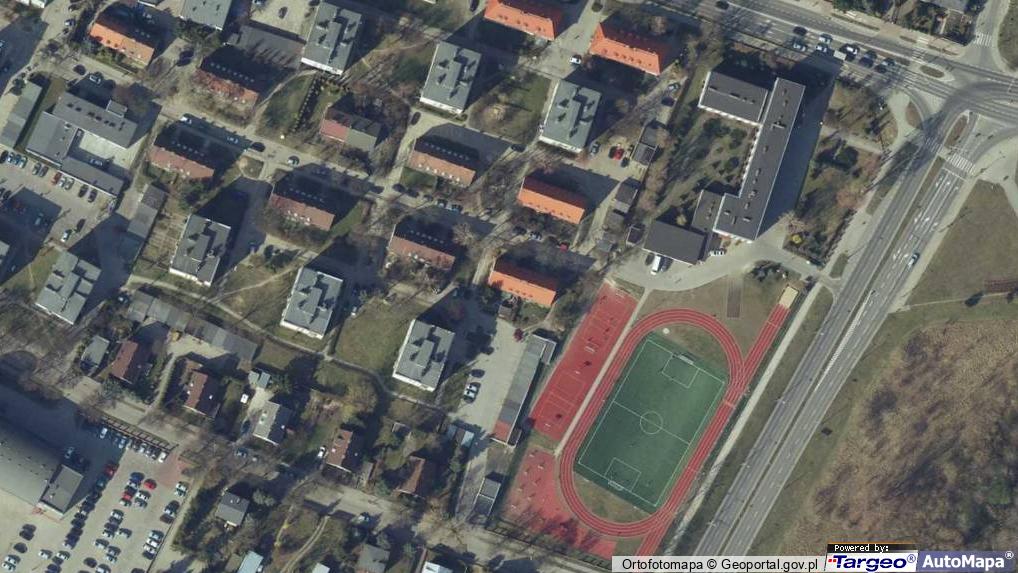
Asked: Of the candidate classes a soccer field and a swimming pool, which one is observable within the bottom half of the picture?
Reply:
soccer field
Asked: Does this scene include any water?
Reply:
No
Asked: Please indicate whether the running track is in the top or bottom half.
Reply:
bottom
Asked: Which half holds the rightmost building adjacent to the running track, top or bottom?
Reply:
top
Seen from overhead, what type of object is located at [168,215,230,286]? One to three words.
building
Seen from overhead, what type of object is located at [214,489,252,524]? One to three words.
house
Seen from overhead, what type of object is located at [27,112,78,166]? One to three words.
building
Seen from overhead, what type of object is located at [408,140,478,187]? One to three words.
house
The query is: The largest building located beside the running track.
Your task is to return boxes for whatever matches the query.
[713,78,805,245]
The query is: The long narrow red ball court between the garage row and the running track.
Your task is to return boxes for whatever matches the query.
[532,282,638,440]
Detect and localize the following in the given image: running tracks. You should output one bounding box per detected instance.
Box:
[559,303,788,573]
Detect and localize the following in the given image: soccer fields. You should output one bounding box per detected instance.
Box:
[573,331,730,514]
